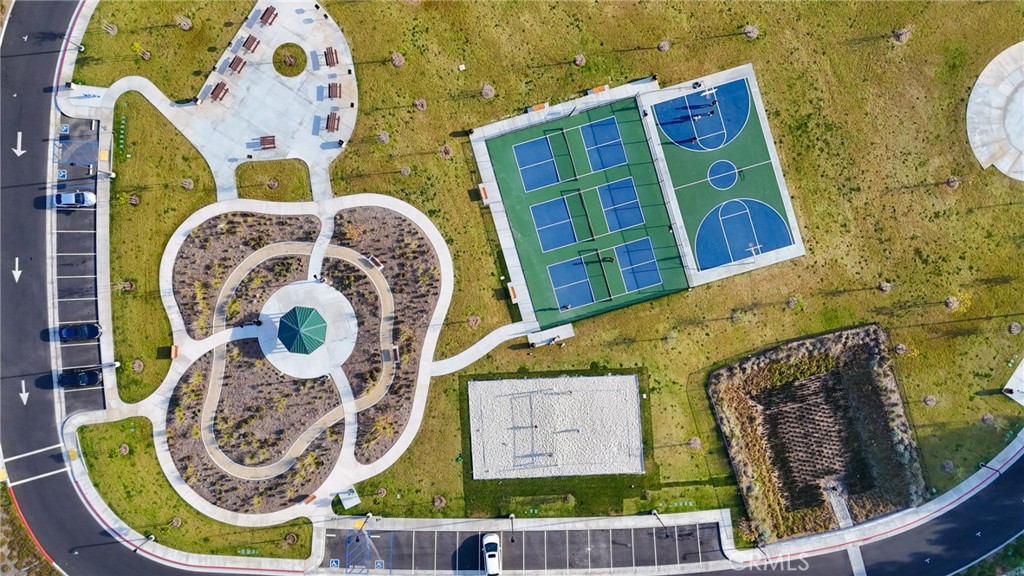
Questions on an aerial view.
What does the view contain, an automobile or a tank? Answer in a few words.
automobile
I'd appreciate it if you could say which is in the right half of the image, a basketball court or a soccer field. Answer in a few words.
basketball court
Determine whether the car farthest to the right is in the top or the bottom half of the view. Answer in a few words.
bottom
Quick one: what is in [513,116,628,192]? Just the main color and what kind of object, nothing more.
blue sports court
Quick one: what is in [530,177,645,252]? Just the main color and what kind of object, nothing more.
blue sports court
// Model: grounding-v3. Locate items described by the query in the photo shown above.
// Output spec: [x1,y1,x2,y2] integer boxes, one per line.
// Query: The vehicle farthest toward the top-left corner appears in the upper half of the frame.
[54,189,96,208]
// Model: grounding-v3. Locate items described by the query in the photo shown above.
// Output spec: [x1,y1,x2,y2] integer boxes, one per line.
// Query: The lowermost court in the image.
[468,374,645,480]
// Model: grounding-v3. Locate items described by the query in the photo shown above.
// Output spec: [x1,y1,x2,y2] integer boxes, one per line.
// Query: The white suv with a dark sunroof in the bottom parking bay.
[481,533,501,576]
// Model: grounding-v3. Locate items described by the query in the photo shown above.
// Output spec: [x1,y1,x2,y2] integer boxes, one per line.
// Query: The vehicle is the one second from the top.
[59,323,101,342]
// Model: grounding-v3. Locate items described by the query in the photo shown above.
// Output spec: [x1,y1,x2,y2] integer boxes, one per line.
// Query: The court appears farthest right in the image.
[653,77,797,272]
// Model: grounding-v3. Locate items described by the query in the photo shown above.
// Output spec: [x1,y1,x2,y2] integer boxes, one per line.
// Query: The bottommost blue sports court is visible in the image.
[548,237,663,312]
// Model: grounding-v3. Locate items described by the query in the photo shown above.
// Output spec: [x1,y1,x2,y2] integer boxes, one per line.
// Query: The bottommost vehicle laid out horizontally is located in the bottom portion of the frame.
[58,370,101,388]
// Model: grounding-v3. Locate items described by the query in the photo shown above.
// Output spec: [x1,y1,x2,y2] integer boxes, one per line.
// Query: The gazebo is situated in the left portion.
[278,306,326,354]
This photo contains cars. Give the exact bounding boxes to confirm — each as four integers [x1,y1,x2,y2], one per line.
[481,533,501,576]
[58,370,101,388]
[59,323,101,342]
[54,189,96,208]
